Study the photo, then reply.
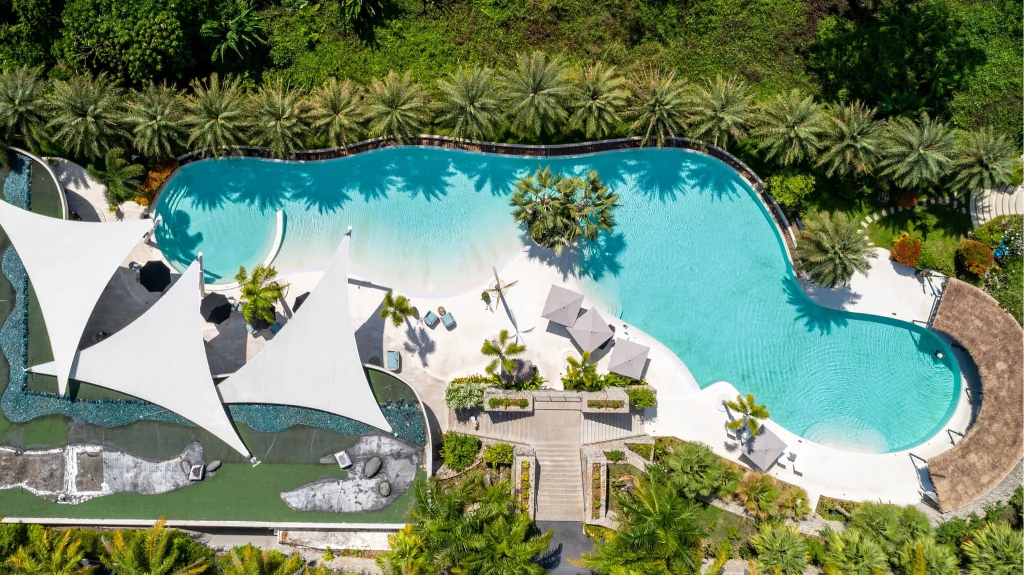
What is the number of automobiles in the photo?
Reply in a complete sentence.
No automobiles are visible.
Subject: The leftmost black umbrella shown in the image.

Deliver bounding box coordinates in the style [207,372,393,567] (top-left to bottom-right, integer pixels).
[140,261,174,291]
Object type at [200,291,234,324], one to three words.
umbrella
